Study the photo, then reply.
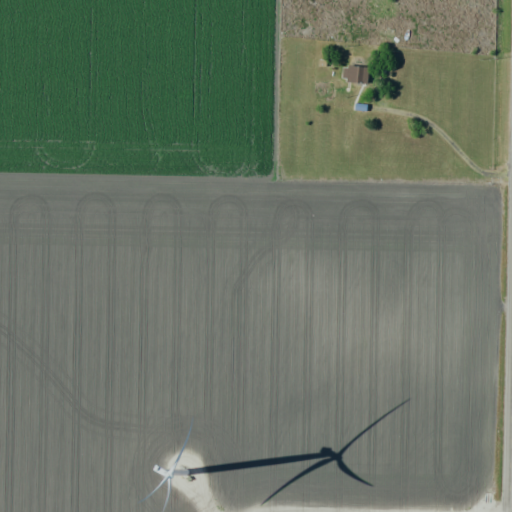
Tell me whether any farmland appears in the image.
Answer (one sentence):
Yes, there's farmland in this view.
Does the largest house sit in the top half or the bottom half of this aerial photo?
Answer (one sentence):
The largest house is in the top half of the image.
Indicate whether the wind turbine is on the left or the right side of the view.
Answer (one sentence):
The wind turbine sits on the left side.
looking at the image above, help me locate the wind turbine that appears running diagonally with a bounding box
[139,422,194,512]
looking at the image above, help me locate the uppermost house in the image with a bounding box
[344,65,368,85]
